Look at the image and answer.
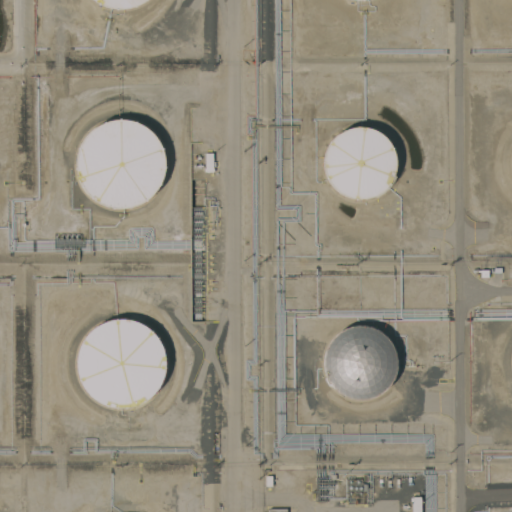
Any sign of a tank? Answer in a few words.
Yes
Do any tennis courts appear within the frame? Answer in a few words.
No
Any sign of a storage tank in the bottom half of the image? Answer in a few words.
Yes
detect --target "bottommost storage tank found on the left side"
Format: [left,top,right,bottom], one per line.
[76,318,168,411]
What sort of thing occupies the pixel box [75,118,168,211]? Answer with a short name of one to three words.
storage tank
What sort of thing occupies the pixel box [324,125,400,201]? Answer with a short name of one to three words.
storage tank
